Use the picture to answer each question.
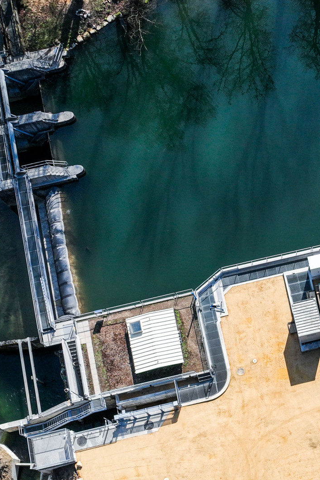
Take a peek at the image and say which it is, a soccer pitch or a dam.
dam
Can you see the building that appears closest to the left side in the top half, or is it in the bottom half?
bottom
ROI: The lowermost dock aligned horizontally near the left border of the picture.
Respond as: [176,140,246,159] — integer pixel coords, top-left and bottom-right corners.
[15,163,90,187]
